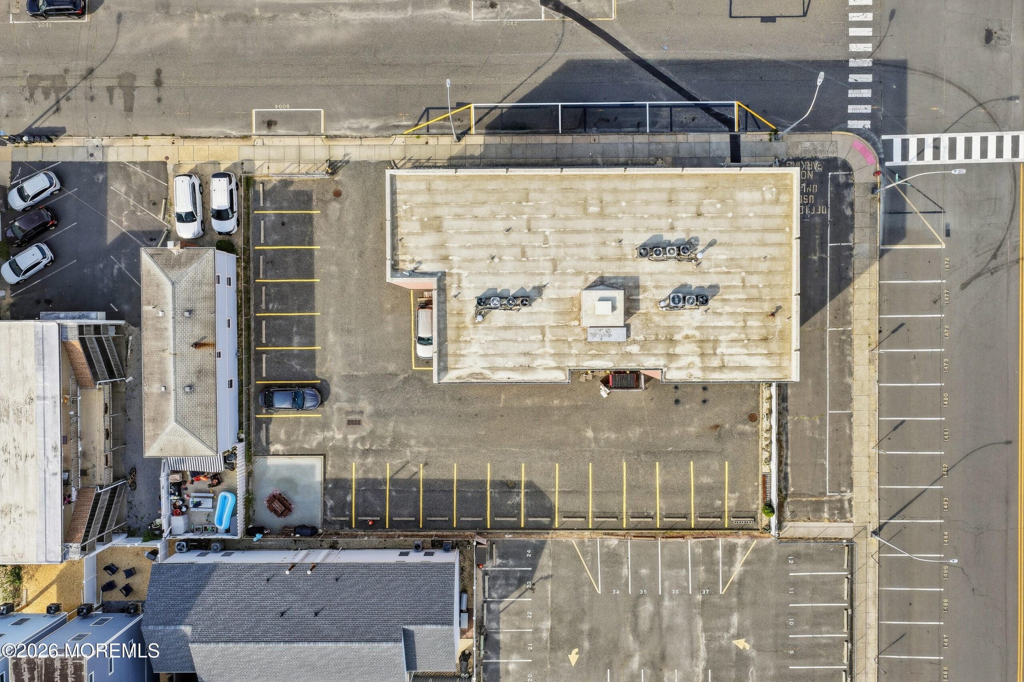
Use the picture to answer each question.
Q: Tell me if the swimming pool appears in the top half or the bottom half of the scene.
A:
bottom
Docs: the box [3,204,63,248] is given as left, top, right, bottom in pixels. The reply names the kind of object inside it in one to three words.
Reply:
car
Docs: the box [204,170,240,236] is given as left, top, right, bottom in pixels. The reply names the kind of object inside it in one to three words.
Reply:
car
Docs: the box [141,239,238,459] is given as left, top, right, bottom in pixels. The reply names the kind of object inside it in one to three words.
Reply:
house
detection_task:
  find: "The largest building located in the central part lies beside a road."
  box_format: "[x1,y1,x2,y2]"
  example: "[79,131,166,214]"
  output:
[385,166,801,384]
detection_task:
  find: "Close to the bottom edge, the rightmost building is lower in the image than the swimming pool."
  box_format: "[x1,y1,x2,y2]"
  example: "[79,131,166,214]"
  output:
[141,549,460,682]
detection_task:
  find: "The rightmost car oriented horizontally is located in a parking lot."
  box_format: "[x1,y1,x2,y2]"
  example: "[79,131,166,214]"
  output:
[259,384,324,415]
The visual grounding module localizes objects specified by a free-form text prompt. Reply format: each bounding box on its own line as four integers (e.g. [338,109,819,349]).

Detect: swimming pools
[213,489,237,530]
